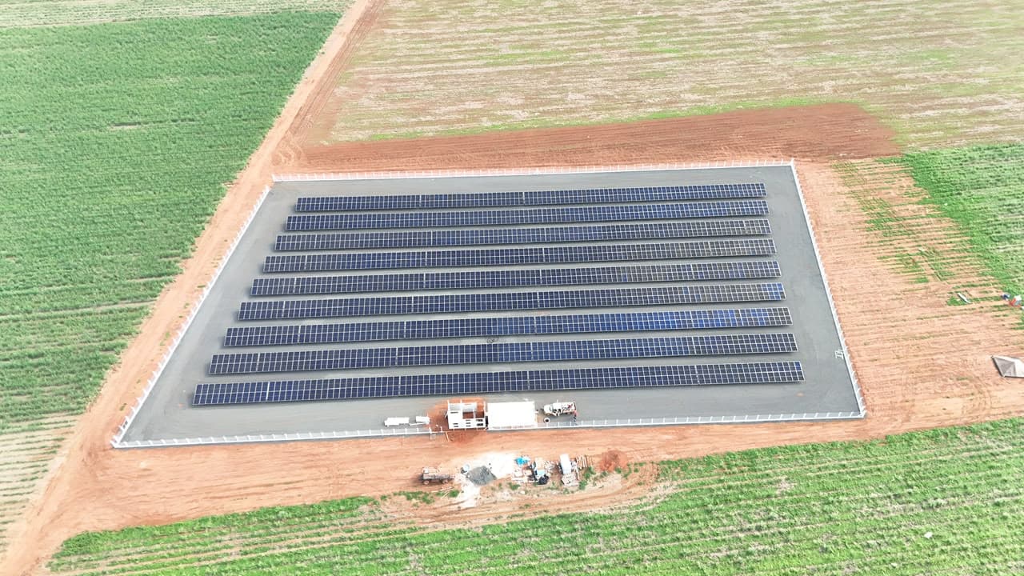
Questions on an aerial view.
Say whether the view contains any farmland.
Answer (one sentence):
Yes, farmland shows up in the scene.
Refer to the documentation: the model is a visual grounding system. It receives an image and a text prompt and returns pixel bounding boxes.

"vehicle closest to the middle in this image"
[542,399,575,417]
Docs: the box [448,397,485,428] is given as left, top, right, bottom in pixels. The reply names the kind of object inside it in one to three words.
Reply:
shed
